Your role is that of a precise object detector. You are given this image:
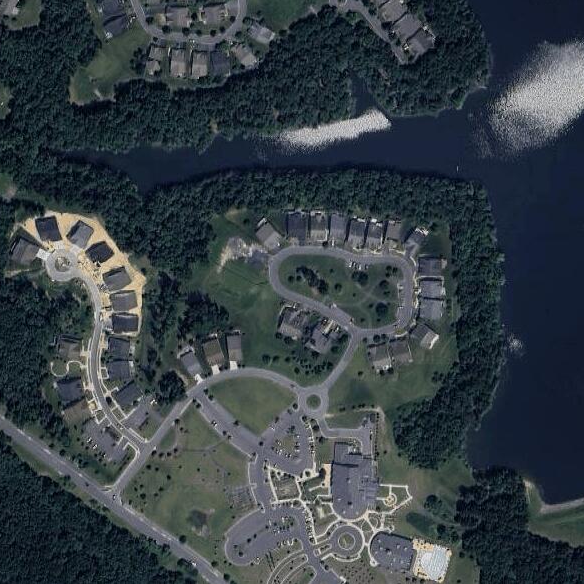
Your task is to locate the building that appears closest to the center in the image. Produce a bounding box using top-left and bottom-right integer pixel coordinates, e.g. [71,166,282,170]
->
[277,302,312,339]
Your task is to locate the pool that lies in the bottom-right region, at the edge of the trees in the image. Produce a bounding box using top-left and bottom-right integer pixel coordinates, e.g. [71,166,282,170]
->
[414,539,451,583]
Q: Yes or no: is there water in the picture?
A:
Yes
